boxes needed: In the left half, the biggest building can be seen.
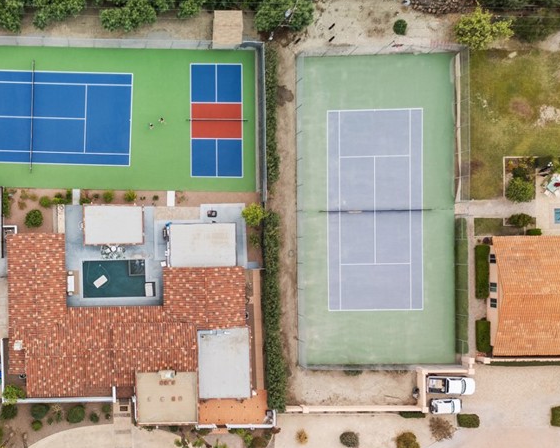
[7,224,252,424]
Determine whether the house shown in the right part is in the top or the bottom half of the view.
bottom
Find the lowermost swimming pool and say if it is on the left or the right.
left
